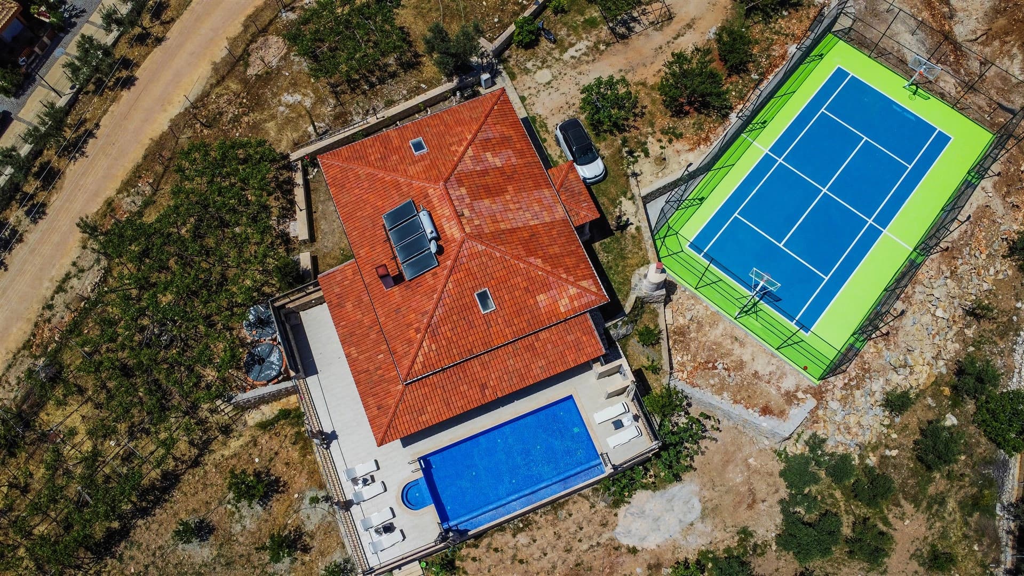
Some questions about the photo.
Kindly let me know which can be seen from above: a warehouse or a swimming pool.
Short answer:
swimming pool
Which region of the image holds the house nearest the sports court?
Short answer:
center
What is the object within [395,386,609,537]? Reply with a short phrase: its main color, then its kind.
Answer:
blue swimming pool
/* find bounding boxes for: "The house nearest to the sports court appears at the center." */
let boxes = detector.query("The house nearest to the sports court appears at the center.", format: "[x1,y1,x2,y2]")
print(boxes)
[316,86,608,447]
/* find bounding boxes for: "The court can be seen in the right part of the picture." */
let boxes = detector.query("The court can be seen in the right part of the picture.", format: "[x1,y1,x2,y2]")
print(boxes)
[654,32,995,386]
